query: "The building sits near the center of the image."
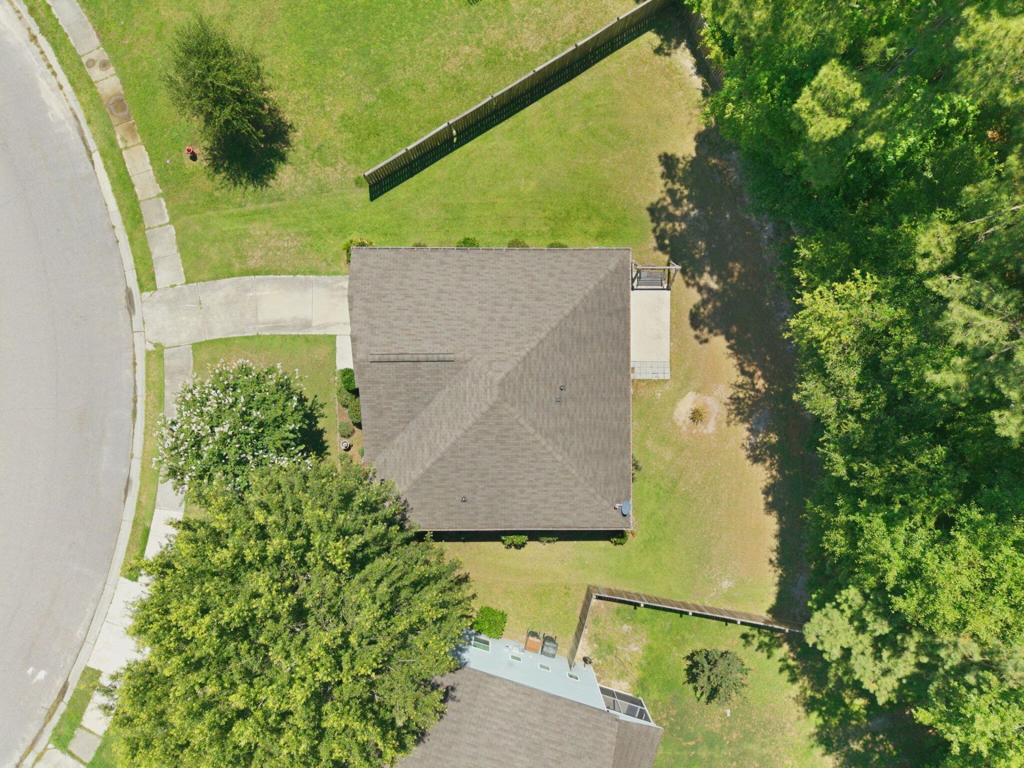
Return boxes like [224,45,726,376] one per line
[348,246,634,532]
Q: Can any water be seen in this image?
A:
No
